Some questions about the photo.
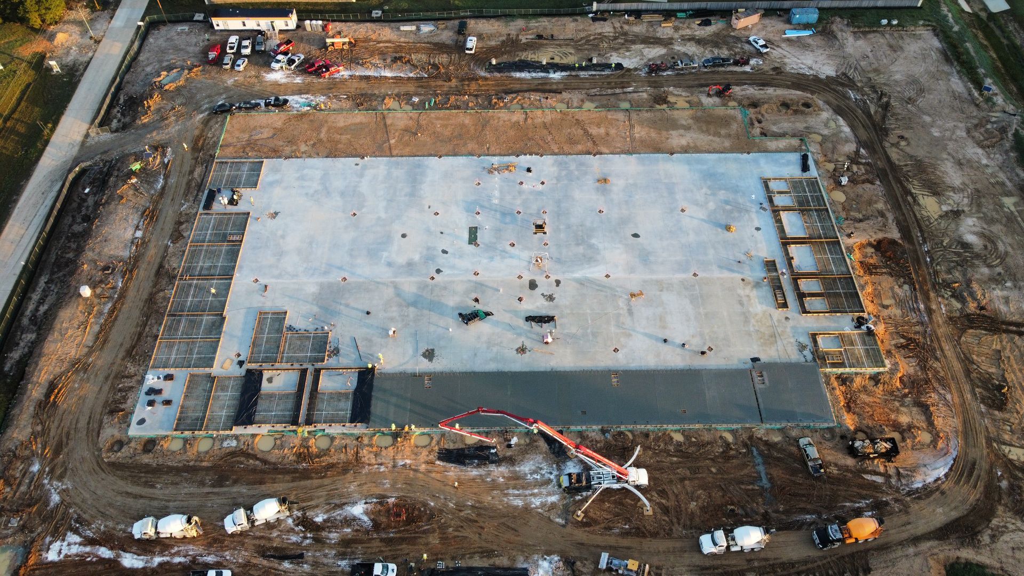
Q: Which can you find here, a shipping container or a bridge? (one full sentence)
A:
There is a shipping container in the scene.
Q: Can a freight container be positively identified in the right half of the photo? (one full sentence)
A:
Yes, a freight container appears in the right half of the photo.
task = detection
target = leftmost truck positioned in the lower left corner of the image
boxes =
[129,514,203,541]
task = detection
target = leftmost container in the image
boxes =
[730,6,763,31]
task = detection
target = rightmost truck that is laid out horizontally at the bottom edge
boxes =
[808,517,886,549]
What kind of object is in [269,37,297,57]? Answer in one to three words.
vehicle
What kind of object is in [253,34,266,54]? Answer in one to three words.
vehicle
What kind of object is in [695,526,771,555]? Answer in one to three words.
truck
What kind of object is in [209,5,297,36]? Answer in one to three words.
trailer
